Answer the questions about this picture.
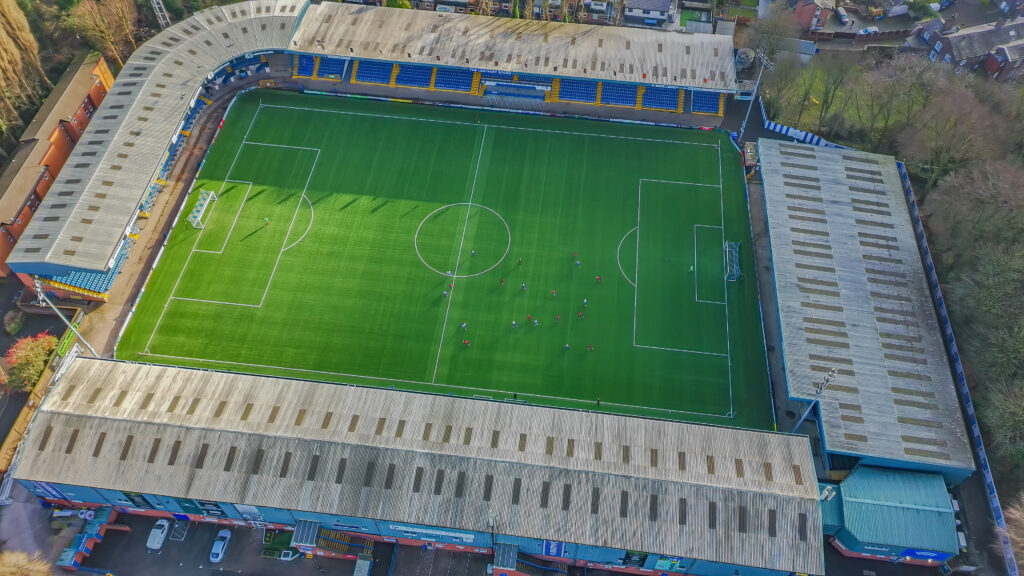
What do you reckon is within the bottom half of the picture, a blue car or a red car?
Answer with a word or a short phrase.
blue car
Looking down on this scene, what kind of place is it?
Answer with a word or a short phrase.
sports ground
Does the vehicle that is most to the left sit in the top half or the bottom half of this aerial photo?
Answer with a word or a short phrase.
bottom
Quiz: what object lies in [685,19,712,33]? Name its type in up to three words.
shed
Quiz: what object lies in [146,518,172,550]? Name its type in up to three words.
vehicle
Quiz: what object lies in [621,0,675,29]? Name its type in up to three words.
house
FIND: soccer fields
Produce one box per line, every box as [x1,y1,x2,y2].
[116,89,775,430]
